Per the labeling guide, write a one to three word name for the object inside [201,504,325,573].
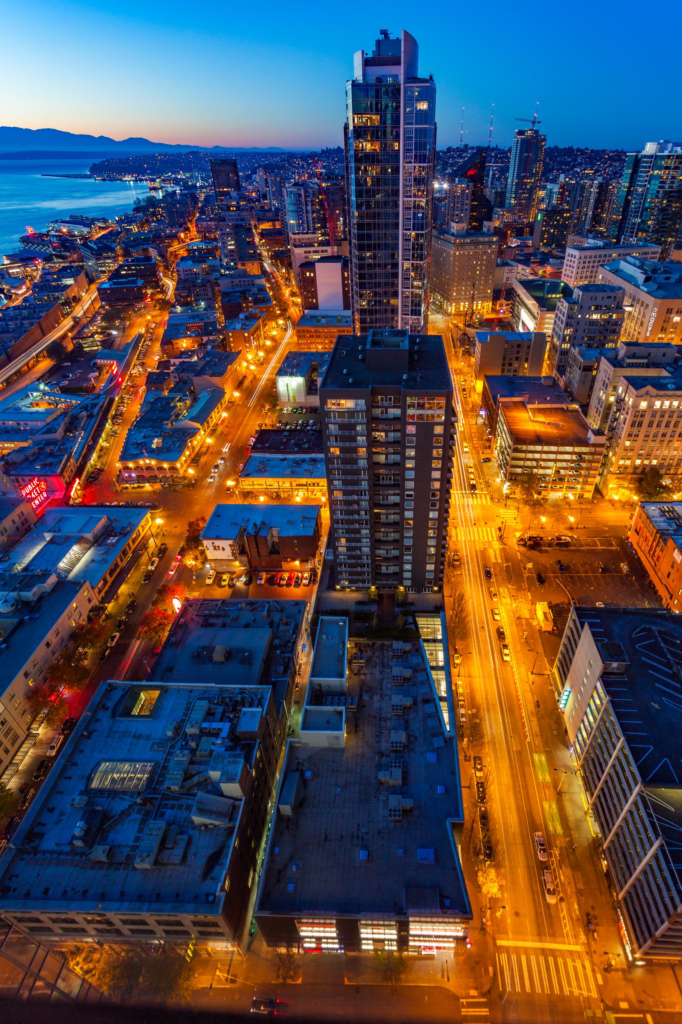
building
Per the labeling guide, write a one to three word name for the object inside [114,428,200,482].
building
